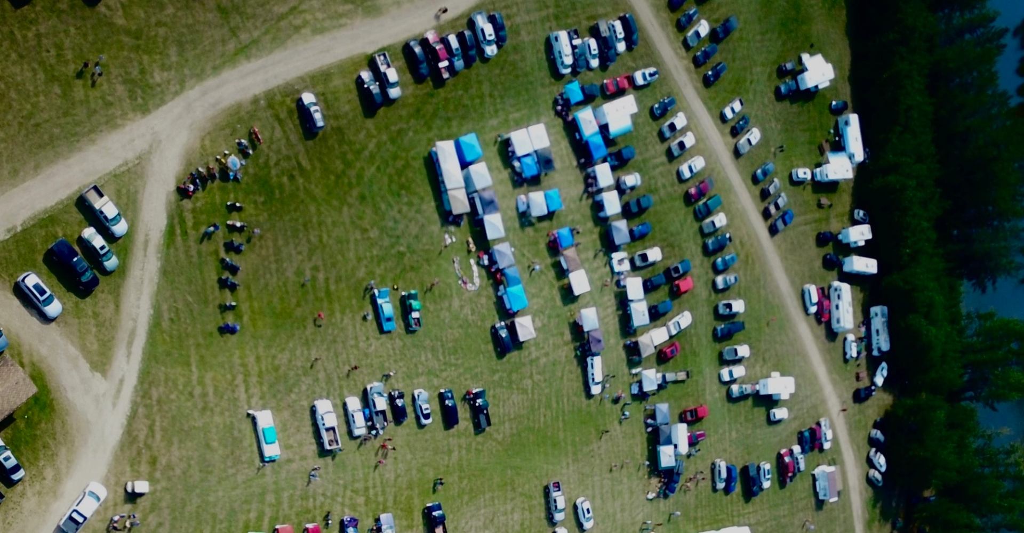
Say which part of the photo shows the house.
bottom left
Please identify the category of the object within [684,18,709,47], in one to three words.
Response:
truck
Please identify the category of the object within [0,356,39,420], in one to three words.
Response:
house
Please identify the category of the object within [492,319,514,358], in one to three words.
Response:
car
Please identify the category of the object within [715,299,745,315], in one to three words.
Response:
vehicle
